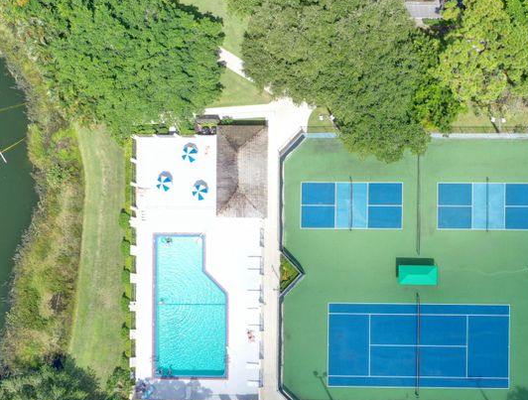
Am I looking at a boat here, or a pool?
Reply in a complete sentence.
The one in the frame is a pool.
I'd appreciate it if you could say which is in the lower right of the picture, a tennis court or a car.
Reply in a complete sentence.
Looking in the lower right of the picture, you will find a tennis court.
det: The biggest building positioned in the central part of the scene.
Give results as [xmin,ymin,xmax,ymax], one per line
[216,124,268,219]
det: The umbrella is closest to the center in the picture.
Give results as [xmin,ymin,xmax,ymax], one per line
[190,181,208,199]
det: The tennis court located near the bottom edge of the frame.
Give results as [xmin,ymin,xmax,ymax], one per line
[327,295,510,395]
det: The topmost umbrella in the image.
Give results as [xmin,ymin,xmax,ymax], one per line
[180,145,198,161]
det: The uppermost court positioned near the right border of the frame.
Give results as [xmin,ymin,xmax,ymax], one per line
[437,177,528,232]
